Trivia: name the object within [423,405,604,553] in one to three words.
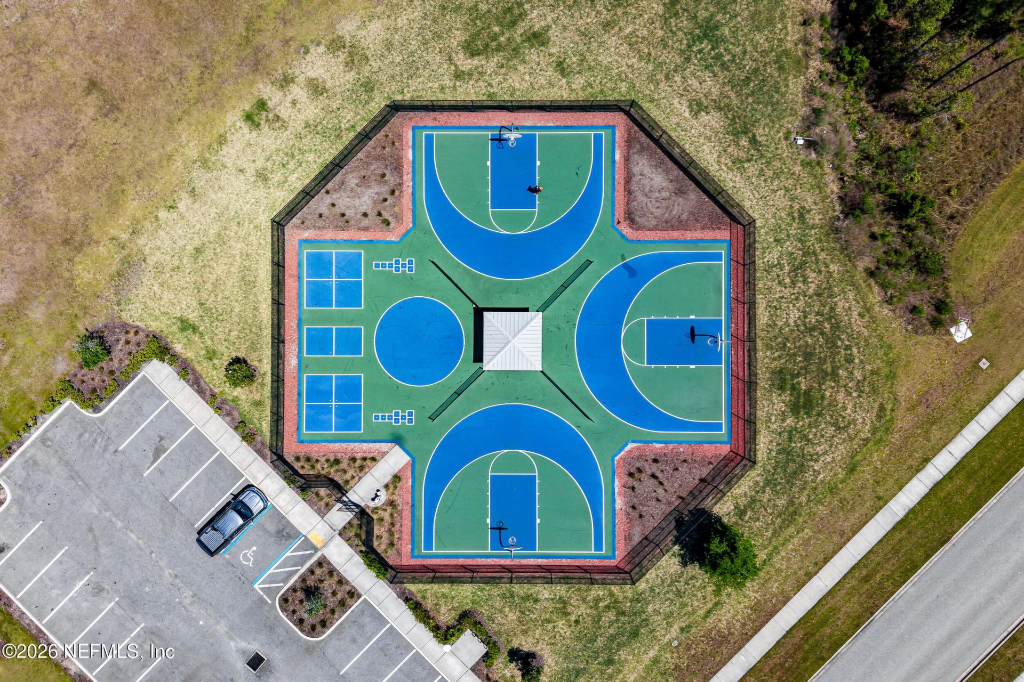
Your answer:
basketball court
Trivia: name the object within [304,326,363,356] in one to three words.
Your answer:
sports court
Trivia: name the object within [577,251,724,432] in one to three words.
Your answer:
basketball court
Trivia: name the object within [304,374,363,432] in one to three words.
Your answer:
sports court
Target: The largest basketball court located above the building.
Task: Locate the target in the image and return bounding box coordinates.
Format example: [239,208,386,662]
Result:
[423,132,604,279]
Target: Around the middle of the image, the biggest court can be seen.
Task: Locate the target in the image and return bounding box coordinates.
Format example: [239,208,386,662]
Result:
[298,125,731,559]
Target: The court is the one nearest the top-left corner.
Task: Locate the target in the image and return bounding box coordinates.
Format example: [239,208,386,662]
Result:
[304,250,363,308]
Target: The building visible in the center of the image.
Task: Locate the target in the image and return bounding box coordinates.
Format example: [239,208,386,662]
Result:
[483,311,543,371]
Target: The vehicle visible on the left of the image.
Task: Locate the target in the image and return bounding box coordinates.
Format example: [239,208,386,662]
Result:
[195,489,268,558]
